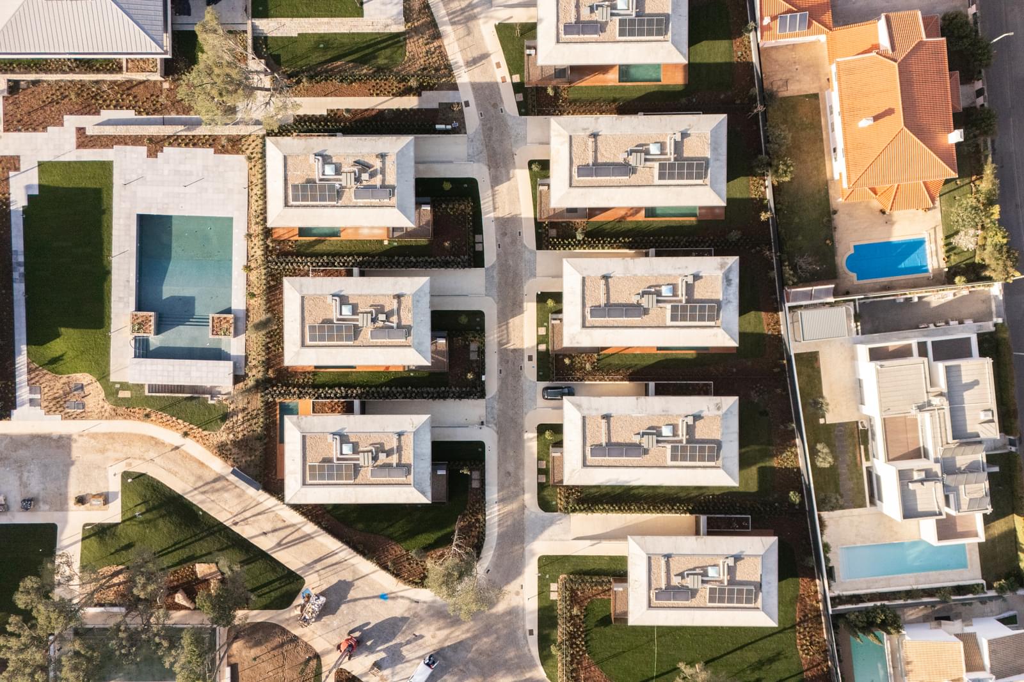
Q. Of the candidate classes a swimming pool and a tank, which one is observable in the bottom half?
swimming pool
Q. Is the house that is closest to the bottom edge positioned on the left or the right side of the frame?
right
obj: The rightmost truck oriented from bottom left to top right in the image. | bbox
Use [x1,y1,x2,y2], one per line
[409,654,438,682]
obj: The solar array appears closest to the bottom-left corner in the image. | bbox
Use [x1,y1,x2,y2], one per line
[307,464,353,485]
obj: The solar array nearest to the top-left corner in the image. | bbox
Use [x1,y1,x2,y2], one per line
[289,183,335,205]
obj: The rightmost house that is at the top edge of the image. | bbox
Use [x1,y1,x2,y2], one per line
[819,7,973,211]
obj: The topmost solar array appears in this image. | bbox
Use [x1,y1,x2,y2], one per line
[619,19,665,41]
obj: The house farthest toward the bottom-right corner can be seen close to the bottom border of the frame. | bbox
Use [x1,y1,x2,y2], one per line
[891,606,1024,682]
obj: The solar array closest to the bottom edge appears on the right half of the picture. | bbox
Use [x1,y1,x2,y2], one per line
[709,585,755,606]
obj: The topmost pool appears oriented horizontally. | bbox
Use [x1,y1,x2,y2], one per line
[619,65,661,81]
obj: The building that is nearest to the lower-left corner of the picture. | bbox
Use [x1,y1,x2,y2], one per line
[129,359,234,402]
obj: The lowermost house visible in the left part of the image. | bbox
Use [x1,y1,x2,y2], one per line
[277,400,448,504]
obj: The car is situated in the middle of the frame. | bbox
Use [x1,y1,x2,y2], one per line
[544,386,574,400]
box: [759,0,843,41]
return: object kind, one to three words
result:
building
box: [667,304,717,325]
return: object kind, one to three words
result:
solar array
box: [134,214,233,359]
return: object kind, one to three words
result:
swimming pool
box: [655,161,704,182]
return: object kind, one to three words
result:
solar array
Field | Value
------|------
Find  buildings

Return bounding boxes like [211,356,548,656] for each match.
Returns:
[266,136,434,240]
[0,0,173,58]
[843,334,1000,546]
[129,359,234,402]
[283,277,449,371]
[549,256,739,353]
[277,400,448,504]
[819,7,973,211]
[610,536,778,626]
[793,306,854,341]
[537,114,727,223]
[525,0,688,90]
[891,606,1024,682]
[549,397,739,486]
